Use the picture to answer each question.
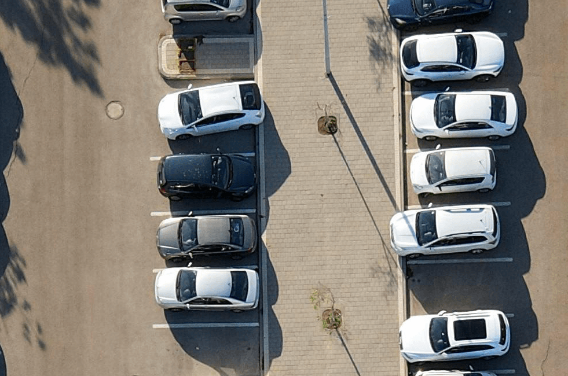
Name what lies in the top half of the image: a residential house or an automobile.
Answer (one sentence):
You can see an automobile in the top half of the image.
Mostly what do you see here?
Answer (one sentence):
What you mostly see from above here is paved ground.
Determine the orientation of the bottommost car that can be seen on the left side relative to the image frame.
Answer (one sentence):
Seen from above, the bottommost car that can be seen on the left side lies from side to side.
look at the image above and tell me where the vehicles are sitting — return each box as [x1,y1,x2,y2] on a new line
[389,199,500,257]
[399,305,510,361]
[157,146,257,200]
[410,141,496,196]
[158,80,264,140]
[400,24,504,85]
[157,208,258,262]
[409,81,519,139]
[155,260,258,312]
[161,0,247,24]
[386,0,496,29]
